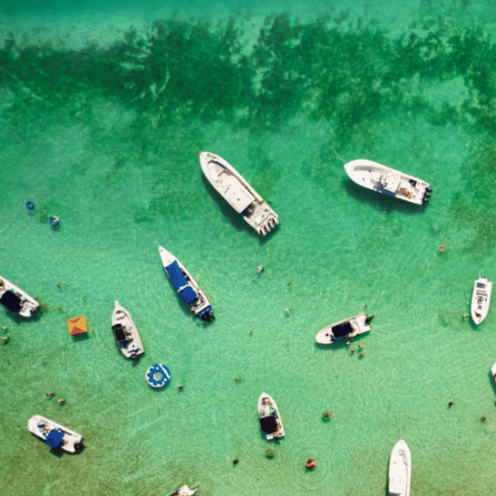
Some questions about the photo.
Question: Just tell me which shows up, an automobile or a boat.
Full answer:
Visible in the photo is a boat.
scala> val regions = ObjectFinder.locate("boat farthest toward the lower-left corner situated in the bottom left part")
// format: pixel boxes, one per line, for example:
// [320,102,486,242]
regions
[30,415,90,451]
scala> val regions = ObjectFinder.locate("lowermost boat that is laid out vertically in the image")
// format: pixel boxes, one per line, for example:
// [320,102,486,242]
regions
[388,440,412,496]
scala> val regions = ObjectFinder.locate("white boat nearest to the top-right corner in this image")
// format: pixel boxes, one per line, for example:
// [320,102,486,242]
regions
[333,152,434,206]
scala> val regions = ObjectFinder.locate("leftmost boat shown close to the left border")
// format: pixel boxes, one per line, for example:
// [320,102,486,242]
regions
[0,276,49,319]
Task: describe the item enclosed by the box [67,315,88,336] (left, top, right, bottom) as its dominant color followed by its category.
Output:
orange tent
